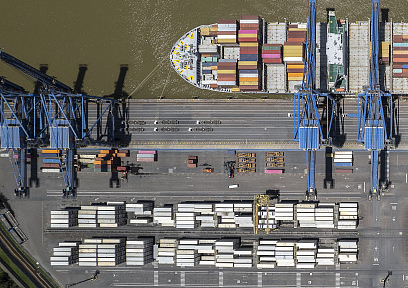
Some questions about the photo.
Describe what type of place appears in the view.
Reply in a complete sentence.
The area seen from above is a port.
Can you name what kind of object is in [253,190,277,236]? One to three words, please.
container crane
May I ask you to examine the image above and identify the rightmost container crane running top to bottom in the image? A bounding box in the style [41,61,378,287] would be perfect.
[356,0,401,201]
